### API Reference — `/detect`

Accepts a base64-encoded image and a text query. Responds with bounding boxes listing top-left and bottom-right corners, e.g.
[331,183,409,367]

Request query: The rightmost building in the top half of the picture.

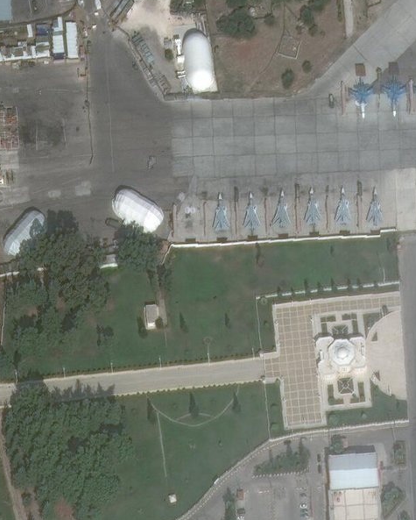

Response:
[185,33,217,95]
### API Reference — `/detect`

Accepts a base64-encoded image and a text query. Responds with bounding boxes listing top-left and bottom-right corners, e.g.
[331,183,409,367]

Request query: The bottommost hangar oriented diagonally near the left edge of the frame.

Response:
[3,212,47,257]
